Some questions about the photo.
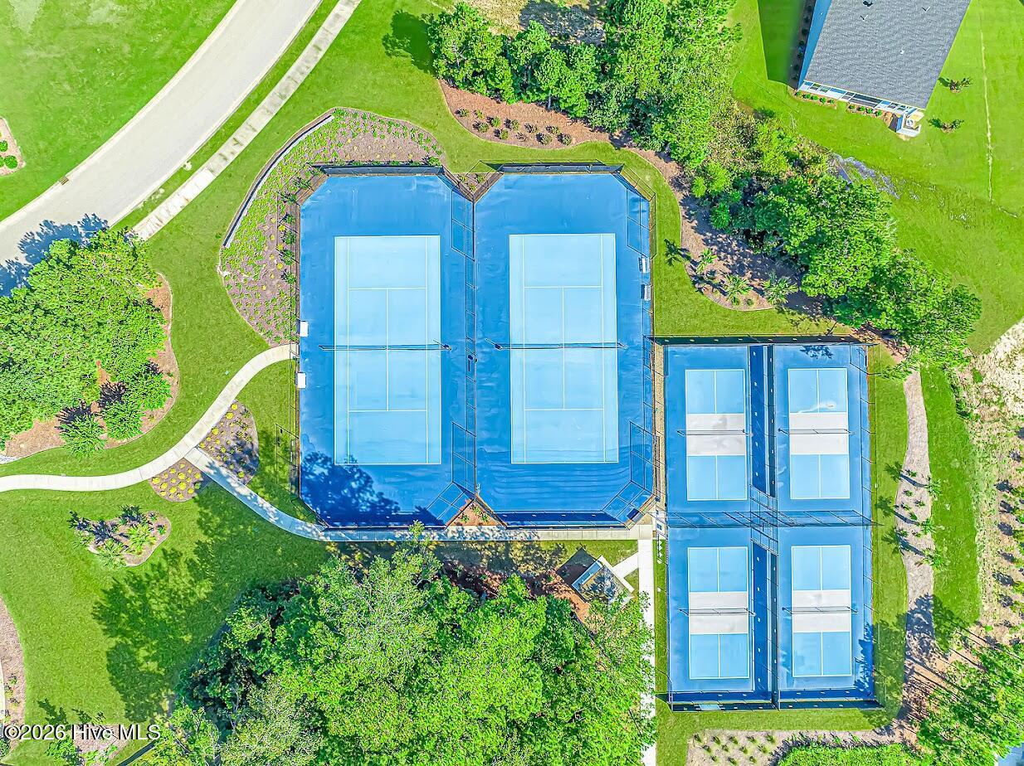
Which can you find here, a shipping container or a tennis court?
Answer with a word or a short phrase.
tennis court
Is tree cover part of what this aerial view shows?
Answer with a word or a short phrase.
Yes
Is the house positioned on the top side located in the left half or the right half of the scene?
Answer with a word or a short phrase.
right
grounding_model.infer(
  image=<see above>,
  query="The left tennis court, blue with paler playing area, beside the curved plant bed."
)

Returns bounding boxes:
[300,175,475,527]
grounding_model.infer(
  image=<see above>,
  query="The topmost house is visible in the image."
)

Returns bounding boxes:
[798,0,977,118]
